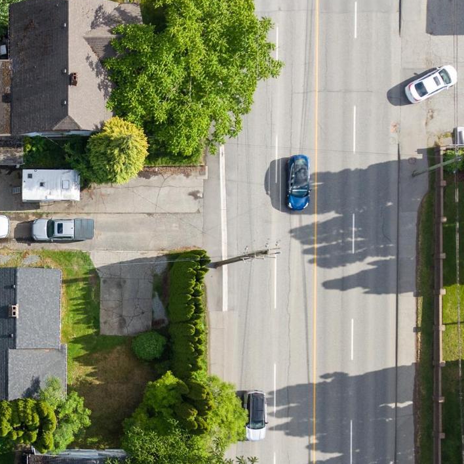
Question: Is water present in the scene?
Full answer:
No, there's no water in this view.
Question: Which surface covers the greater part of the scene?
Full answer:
What you mostly see from above here is paved ground.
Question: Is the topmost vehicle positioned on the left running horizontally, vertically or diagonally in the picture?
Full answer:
The topmost vehicle positioned on the left is oriented horizontally.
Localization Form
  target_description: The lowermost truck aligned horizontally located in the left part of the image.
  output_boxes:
[31,216,94,244]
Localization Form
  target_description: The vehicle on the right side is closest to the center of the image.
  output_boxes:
[285,155,313,212]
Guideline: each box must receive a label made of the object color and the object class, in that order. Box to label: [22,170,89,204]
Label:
white vehicle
